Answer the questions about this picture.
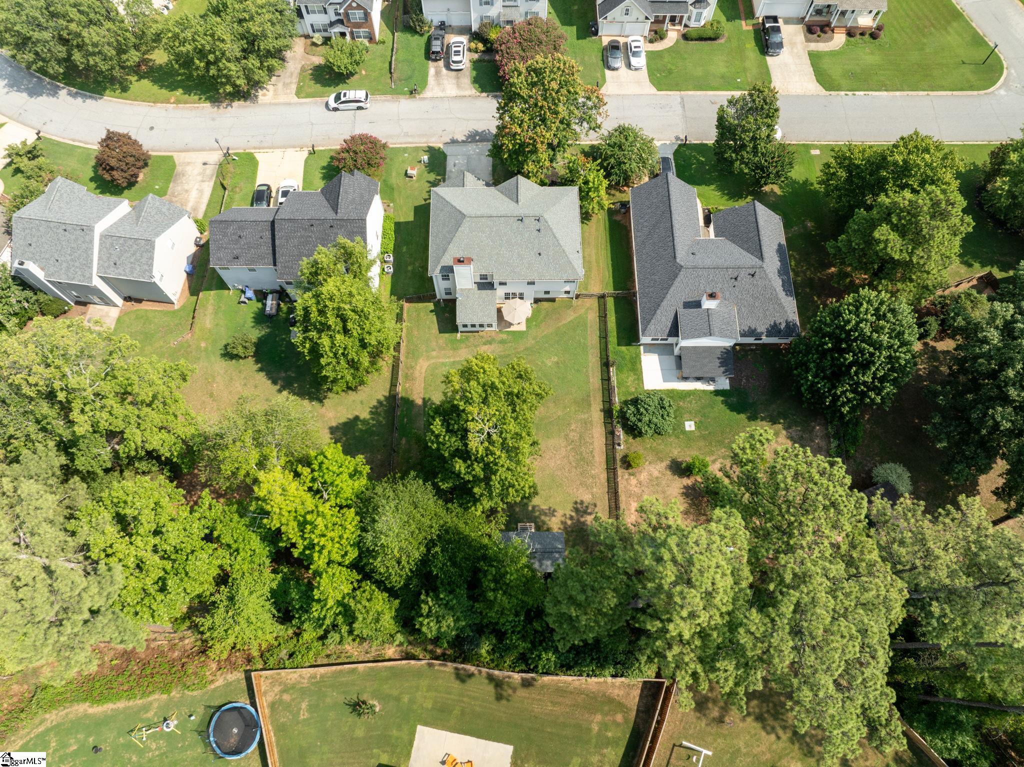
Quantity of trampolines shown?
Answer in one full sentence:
The picture shows just 1 trampoline.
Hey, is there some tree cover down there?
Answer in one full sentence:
Yes, there's tree cover in this view.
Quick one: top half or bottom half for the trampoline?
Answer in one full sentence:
The trampoline sits in the bottom half of the picture.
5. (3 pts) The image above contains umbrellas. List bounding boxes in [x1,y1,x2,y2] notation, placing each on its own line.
[500,299,531,328]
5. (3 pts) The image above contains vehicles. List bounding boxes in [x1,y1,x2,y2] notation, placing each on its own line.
[761,14,785,56]
[277,180,298,206]
[250,180,273,206]
[428,29,445,60]
[328,89,372,111]
[606,38,624,72]
[447,37,466,70]
[627,36,648,71]
[658,154,677,179]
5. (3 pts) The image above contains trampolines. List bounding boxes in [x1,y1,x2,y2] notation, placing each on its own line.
[199,700,262,763]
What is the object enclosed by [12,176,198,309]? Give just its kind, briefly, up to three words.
house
